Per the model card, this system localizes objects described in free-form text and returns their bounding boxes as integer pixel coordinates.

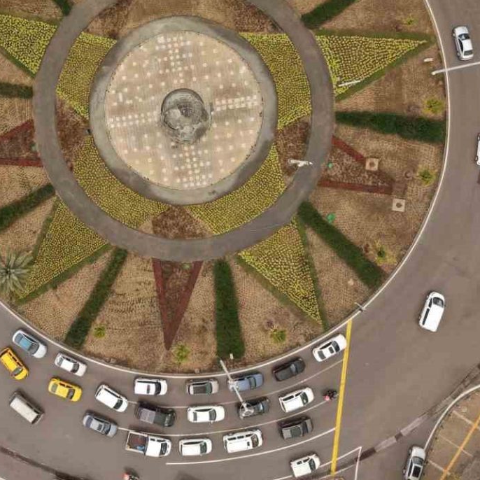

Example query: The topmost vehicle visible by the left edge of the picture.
[11,328,48,359]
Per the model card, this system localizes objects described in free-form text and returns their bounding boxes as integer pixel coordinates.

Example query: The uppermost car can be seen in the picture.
[453,27,473,60]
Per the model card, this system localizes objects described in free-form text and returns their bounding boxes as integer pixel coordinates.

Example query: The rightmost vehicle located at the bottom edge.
[404,444,426,480]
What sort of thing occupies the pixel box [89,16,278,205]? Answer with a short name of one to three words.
fountain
